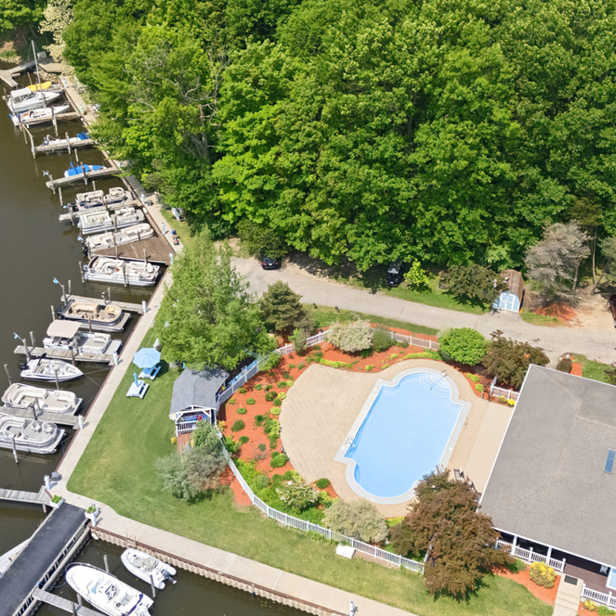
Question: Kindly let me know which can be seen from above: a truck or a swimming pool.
swimming pool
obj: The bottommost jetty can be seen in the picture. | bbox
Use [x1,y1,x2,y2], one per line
[32,583,121,616]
